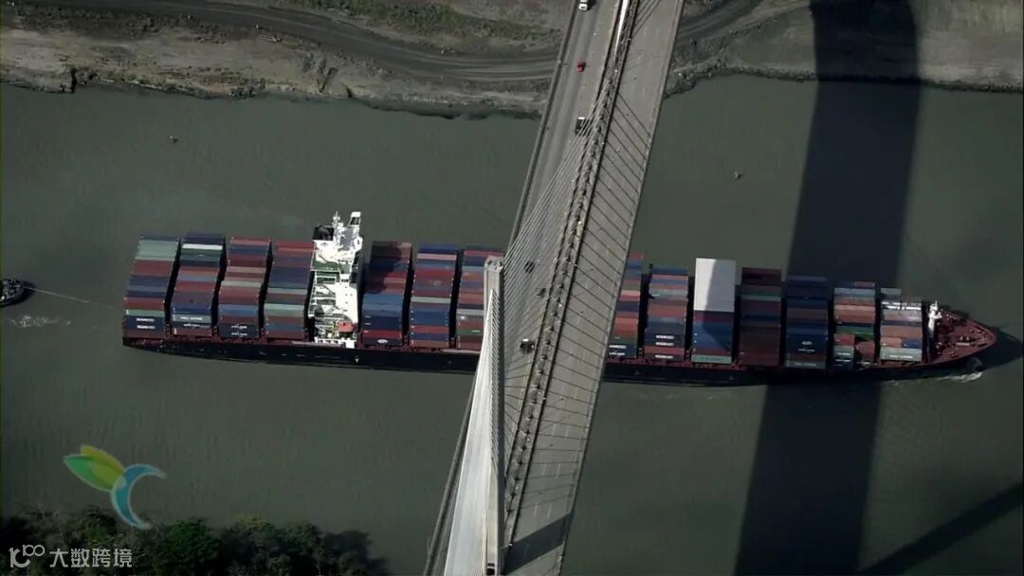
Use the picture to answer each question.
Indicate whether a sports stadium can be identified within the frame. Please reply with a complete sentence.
No, no sports stadium is visible in the scene.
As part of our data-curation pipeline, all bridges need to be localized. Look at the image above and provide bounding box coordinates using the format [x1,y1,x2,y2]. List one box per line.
[426,0,683,576]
